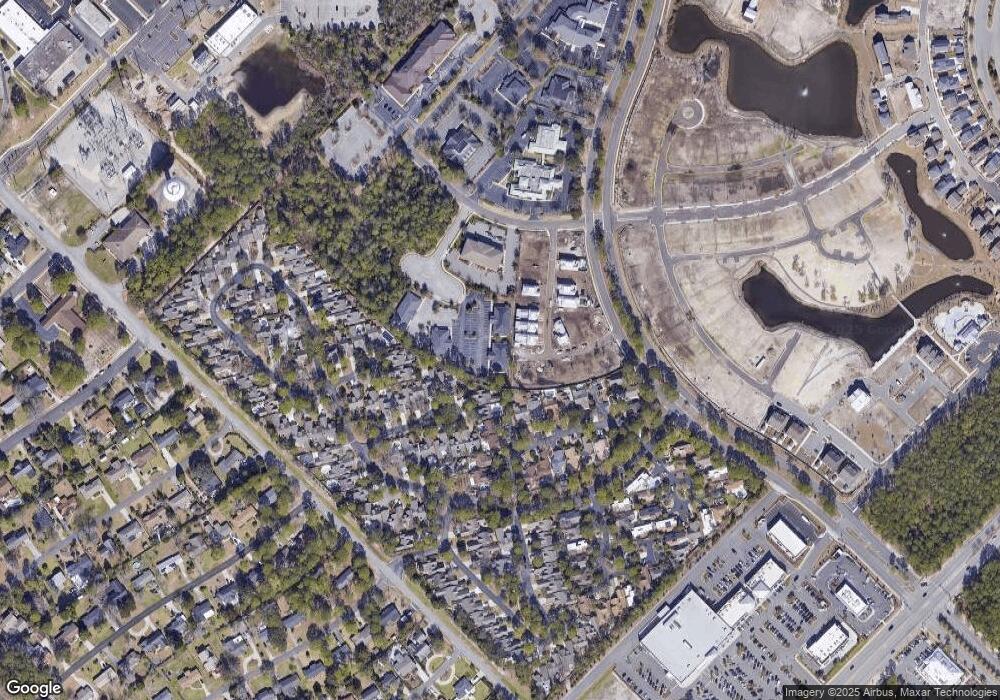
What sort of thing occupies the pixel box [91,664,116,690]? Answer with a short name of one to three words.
house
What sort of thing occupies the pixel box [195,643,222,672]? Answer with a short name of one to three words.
house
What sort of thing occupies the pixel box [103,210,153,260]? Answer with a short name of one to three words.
building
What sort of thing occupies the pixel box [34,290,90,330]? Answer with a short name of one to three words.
building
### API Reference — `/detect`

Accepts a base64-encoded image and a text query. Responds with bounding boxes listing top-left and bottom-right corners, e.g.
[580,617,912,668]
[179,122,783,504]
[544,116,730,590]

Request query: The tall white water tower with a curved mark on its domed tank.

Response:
[161,177,183,199]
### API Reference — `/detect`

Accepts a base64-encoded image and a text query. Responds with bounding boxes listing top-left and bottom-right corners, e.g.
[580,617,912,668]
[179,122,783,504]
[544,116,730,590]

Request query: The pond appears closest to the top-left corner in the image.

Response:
[234,43,326,116]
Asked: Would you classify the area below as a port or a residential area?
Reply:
residential area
